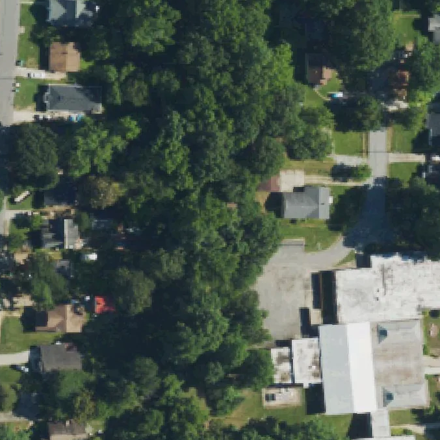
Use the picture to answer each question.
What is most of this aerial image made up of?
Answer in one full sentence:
The scene is dominated by trees.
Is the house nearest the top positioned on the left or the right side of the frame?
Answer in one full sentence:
It is on the left.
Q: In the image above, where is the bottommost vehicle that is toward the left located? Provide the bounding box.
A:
[13,188,29,202]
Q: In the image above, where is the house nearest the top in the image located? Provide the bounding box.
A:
[49,0,92,24]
